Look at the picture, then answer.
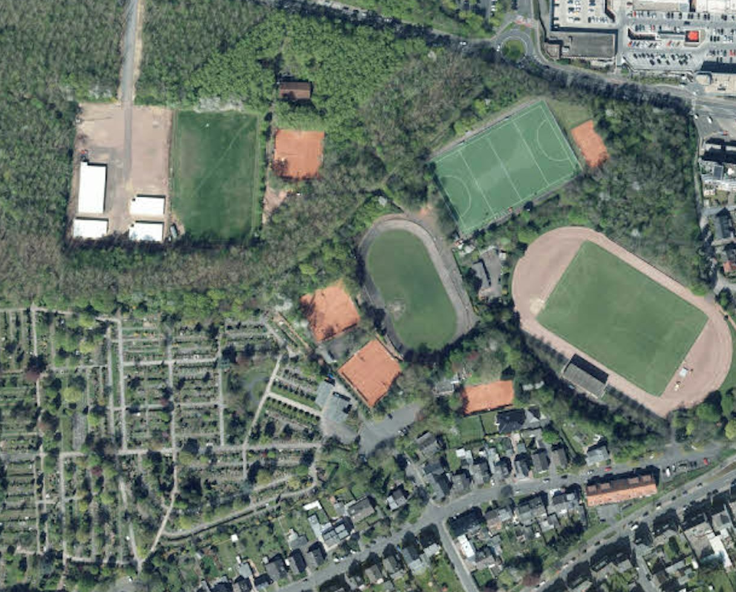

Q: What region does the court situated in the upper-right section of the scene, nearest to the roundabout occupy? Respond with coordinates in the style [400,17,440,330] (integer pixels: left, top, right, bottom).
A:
[573,121,607,167]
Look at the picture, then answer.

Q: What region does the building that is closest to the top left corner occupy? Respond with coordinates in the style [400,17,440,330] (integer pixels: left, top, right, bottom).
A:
[78,162,106,214]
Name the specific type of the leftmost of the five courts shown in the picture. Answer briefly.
tennis court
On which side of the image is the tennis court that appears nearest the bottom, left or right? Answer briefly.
right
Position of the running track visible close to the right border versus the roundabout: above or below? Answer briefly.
below it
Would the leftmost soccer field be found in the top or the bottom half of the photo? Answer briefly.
top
